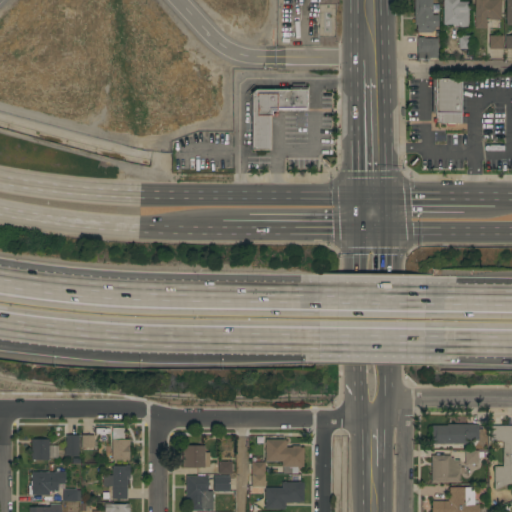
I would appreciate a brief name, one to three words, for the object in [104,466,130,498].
house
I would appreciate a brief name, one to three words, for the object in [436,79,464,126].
building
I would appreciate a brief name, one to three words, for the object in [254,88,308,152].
building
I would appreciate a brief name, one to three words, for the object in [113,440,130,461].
house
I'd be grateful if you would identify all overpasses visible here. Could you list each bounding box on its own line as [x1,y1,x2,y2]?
[310,272,440,364]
